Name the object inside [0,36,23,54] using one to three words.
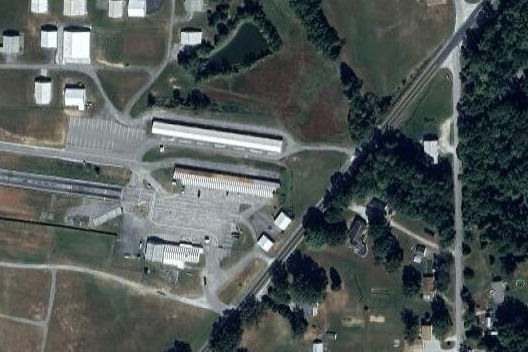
hangar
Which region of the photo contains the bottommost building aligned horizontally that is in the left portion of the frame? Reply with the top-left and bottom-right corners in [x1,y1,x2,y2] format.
[144,244,202,270]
